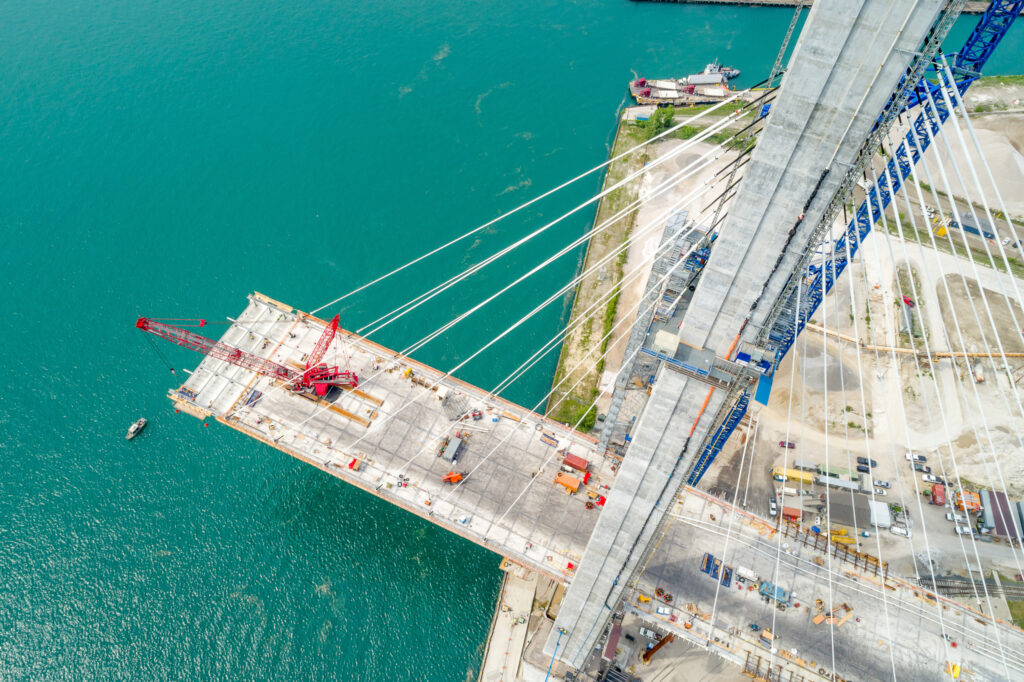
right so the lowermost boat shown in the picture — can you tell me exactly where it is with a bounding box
[129,418,148,440]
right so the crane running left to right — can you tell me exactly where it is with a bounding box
[133,316,351,408]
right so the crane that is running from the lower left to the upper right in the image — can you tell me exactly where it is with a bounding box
[689,0,1024,486]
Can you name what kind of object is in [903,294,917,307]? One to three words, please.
vehicle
